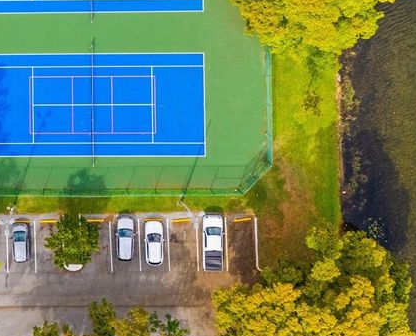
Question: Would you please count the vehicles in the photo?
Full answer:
The picture shows 4 vehicles.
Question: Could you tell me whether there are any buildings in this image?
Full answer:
No, I can see no building in this picture.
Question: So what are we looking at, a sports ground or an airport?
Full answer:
What you see here is a sports ground.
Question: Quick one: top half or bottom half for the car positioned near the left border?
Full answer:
You can find the car positioned near the left border in the bottom half.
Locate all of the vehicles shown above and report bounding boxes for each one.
[201,213,225,271]
[144,219,166,266]
[115,215,136,262]
[10,220,31,263]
